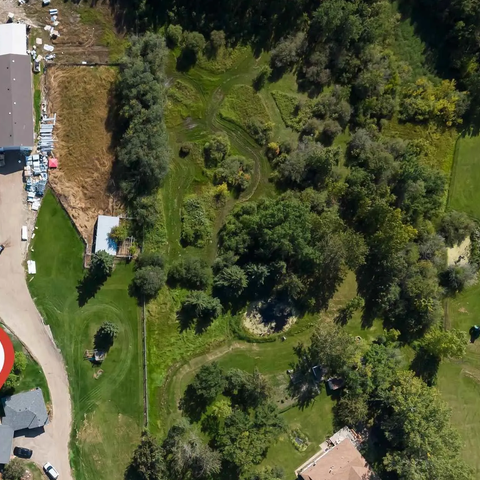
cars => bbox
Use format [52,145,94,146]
[13,447,33,457]
[44,462,59,480]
